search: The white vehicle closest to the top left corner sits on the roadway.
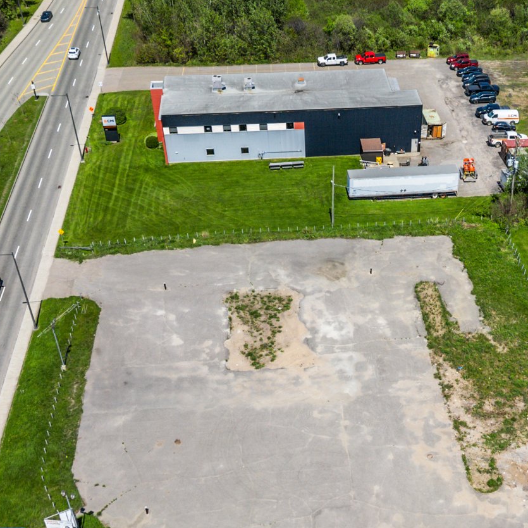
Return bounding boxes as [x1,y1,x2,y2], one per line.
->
[66,47,79,61]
